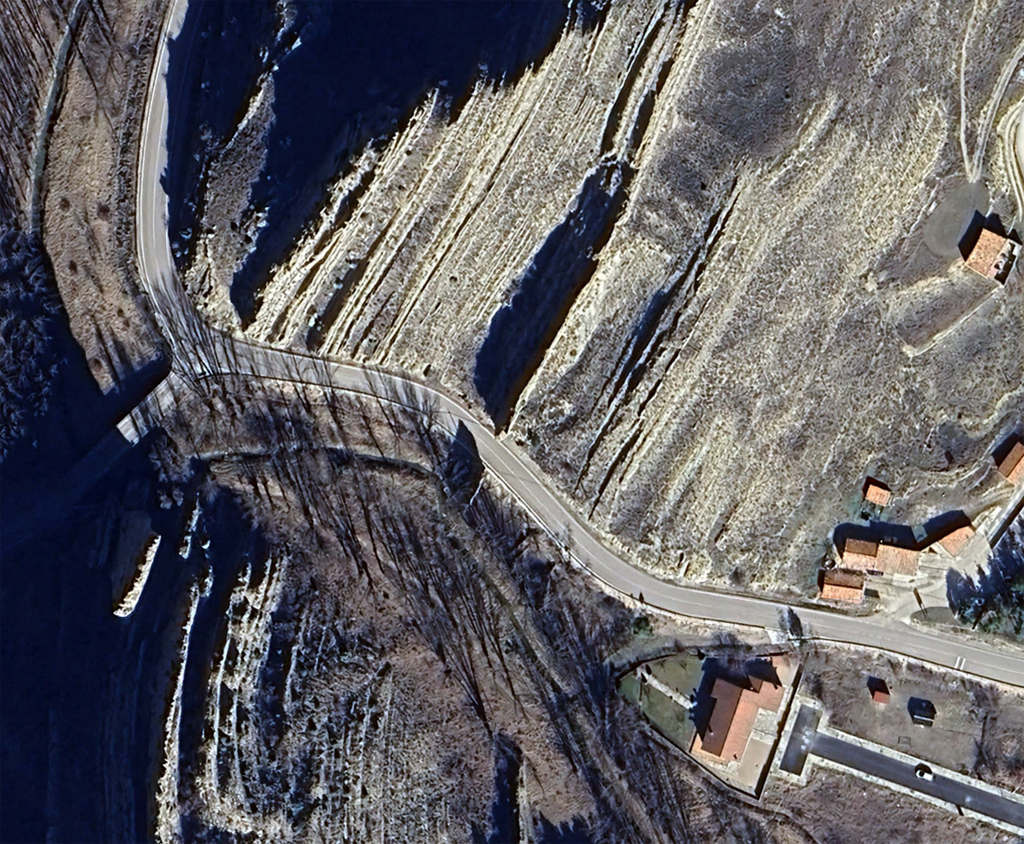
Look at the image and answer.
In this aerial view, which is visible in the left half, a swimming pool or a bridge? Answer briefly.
bridge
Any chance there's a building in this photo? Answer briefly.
Yes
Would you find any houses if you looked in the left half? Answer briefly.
No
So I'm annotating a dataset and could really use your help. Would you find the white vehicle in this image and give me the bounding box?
[915,771,934,783]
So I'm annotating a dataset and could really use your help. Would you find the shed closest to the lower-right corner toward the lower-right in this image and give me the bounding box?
[912,703,937,727]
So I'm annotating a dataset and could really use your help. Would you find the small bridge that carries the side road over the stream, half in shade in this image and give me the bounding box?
[99,361,195,465]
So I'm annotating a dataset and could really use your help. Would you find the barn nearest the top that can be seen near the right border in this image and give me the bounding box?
[966,228,1024,285]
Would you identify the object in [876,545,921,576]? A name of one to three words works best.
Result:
building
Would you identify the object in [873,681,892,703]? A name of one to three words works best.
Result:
shed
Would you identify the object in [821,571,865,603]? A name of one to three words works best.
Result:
house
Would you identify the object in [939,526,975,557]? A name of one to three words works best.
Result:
house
